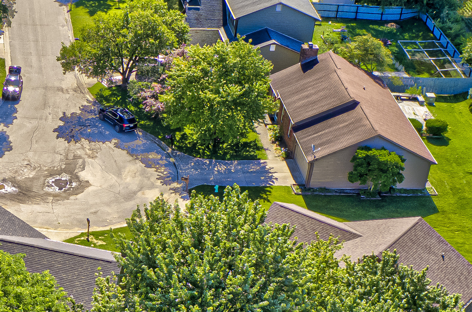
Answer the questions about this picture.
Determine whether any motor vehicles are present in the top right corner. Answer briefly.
No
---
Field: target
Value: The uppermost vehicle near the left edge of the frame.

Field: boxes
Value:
[3,60,25,98]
